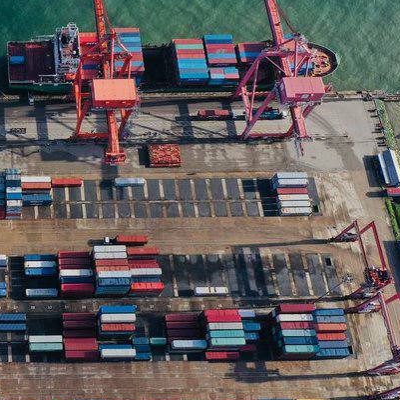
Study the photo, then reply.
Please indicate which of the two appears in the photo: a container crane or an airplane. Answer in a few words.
container crane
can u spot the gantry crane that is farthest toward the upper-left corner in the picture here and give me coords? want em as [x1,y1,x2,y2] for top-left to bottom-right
[68,0,151,161]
